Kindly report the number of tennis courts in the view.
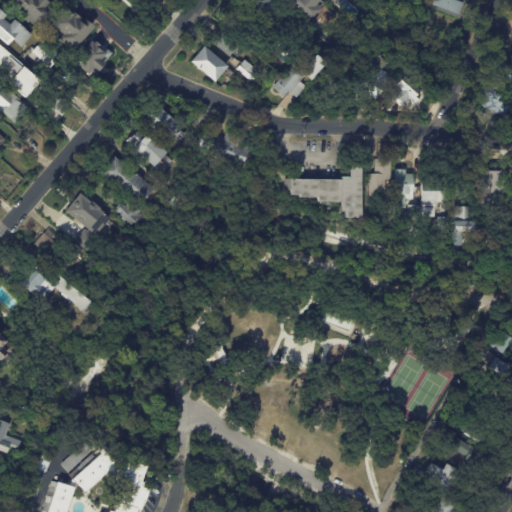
two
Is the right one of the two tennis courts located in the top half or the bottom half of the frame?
bottom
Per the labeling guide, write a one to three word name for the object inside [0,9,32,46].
house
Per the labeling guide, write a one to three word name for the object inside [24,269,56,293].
house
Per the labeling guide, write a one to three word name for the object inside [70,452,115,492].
building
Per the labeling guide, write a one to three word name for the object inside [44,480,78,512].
building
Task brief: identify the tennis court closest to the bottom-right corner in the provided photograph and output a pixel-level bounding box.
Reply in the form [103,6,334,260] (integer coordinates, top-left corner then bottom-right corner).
[406,368,458,426]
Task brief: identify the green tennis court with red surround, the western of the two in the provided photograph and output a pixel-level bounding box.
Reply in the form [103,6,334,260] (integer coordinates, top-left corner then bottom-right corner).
[376,349,428,412]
